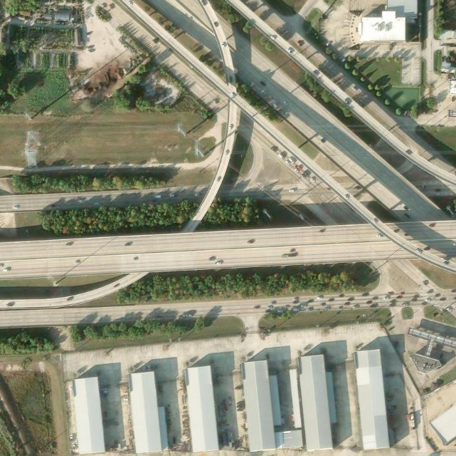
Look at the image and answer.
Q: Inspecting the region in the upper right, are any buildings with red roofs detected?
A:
No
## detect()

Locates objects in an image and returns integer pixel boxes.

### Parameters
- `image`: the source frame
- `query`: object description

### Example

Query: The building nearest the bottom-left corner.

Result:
[75,377,106,455]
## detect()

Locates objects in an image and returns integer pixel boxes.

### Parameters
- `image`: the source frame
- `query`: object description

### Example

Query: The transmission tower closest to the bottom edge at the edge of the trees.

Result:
[20,153,37,172]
